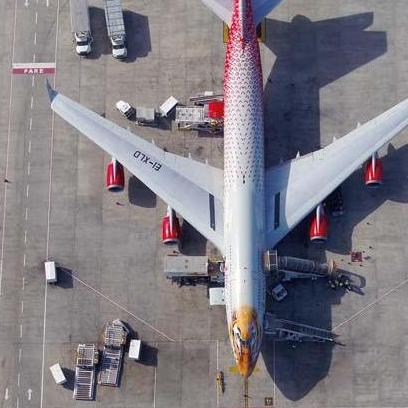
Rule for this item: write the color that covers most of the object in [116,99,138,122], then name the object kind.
white truck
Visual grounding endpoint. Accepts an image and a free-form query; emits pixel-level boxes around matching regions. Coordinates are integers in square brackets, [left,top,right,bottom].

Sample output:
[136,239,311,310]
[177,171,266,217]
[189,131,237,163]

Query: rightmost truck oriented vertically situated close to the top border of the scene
[106,3,128,62]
